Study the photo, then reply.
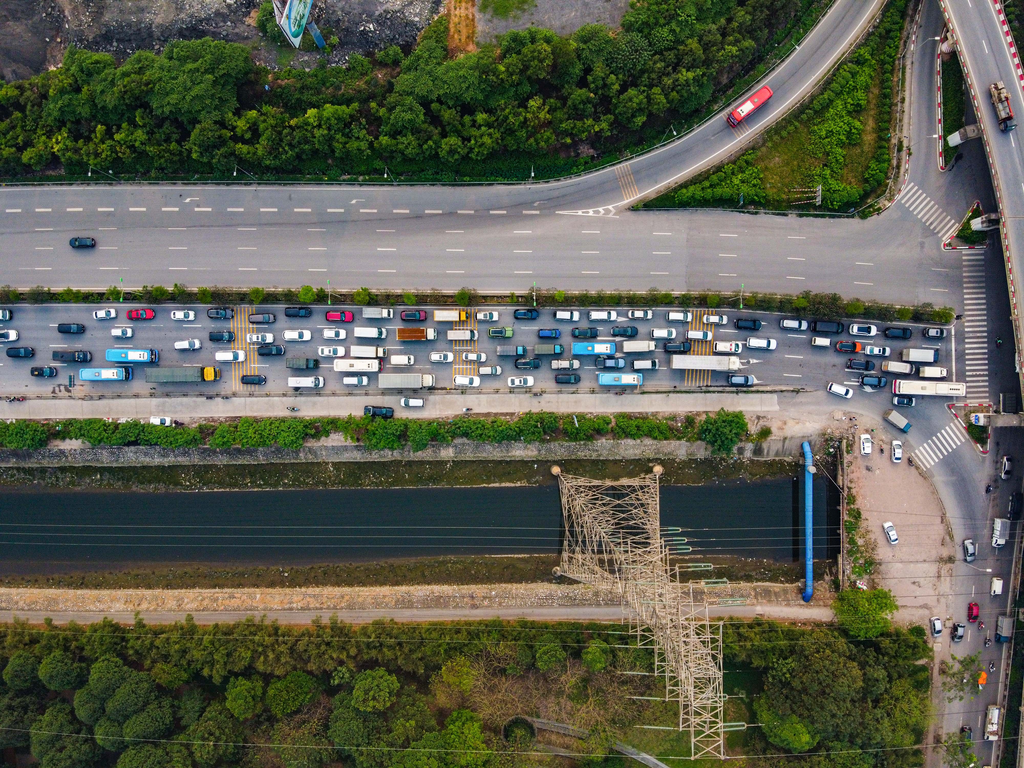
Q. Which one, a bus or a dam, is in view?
bus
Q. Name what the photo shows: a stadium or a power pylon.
power pylon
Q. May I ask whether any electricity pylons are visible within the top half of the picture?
No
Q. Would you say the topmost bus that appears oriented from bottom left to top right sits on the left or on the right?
right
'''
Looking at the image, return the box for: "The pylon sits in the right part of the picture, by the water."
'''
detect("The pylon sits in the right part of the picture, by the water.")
[550,464,755,760]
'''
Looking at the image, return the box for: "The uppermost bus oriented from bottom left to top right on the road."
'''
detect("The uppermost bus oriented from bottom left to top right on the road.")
[725,82,777,130]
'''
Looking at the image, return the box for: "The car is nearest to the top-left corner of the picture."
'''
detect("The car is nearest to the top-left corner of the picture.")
[71,237,96,249]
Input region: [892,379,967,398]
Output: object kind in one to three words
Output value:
vehicle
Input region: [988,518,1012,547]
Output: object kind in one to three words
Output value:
truck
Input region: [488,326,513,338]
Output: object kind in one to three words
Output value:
vehicle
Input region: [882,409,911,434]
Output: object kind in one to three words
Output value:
truck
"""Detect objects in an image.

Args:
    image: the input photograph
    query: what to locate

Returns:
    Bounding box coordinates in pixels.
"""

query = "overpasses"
[931,0,1024,500]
